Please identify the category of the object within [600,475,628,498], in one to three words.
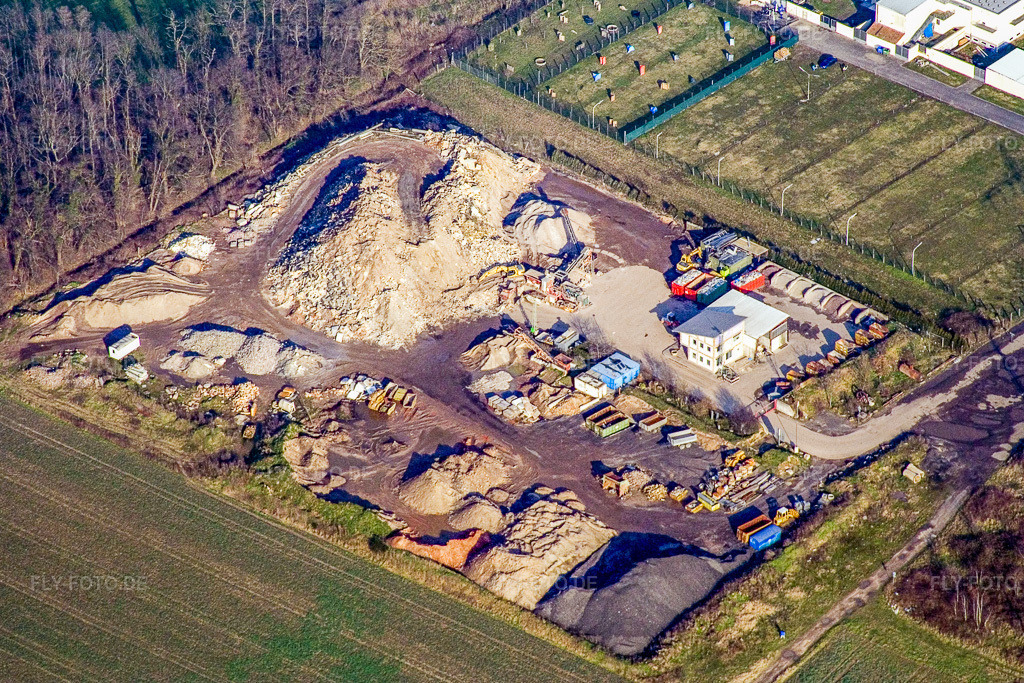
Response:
truck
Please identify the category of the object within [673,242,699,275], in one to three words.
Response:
work vehicle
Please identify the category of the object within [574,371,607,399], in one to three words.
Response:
building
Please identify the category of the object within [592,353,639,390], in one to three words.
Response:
building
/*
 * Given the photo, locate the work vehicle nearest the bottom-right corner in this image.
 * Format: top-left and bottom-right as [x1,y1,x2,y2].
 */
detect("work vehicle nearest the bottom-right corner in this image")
[773,505,805,528]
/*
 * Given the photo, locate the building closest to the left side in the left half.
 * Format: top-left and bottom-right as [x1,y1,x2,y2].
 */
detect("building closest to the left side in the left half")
[108,334,139,360]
